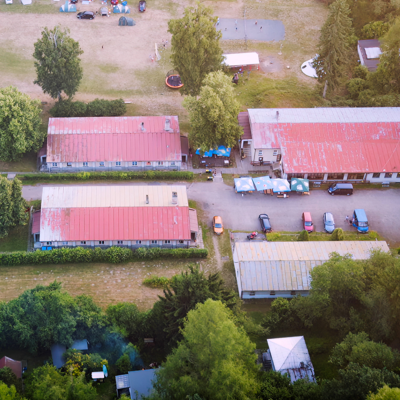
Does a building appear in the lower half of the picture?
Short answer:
Yes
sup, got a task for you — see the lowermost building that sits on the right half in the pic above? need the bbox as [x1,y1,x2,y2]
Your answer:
[260,336,315,393]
